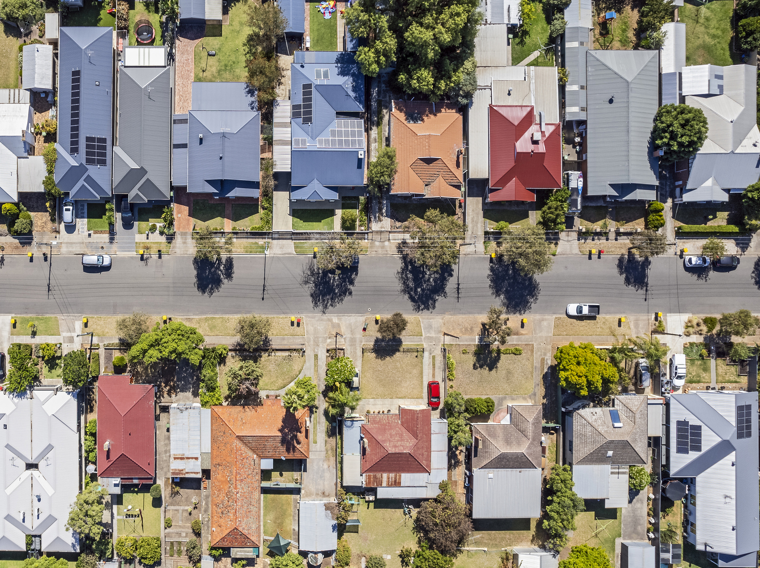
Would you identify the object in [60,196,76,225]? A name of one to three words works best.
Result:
car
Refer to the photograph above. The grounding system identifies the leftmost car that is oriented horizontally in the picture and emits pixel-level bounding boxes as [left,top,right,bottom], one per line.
[82,253,113,268]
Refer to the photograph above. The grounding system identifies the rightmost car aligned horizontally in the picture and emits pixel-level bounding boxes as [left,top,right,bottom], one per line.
[712,254,741,268]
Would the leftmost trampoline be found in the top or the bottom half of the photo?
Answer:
top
